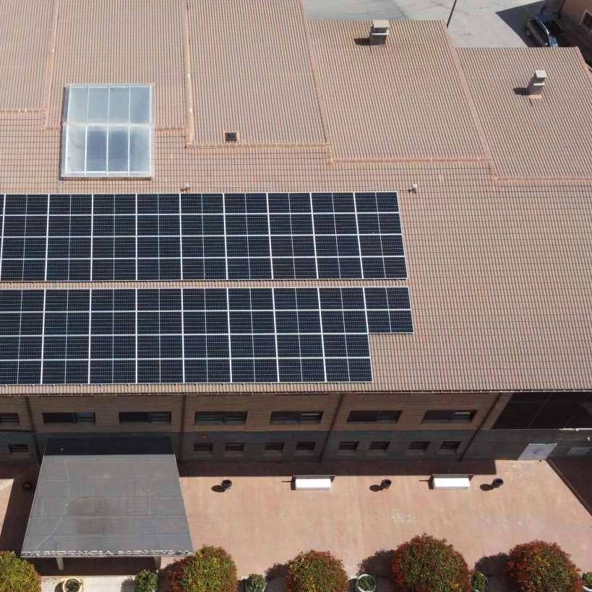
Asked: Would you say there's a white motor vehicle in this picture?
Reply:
No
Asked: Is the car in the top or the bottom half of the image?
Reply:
top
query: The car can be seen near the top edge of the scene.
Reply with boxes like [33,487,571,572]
[514,6,573,48]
